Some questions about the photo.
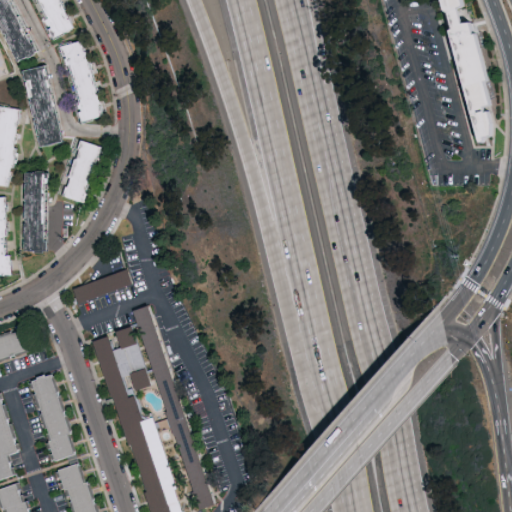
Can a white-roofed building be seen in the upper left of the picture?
Yes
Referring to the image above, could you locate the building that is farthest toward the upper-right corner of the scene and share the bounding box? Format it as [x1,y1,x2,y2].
[437,0,498,144]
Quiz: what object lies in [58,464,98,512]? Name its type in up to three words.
building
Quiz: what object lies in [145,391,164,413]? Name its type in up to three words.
swimming pool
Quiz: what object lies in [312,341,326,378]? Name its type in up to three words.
vehicle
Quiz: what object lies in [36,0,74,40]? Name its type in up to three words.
building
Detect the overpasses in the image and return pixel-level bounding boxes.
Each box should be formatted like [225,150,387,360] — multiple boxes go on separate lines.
[253,307,458,512]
